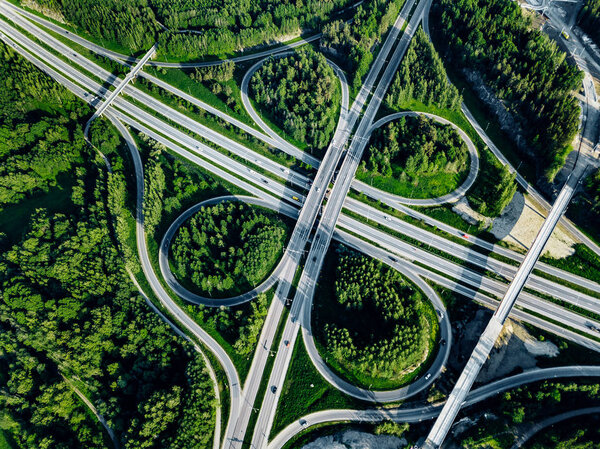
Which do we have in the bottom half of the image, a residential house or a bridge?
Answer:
bridge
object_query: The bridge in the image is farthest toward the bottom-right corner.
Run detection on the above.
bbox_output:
[420,176,579,448]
